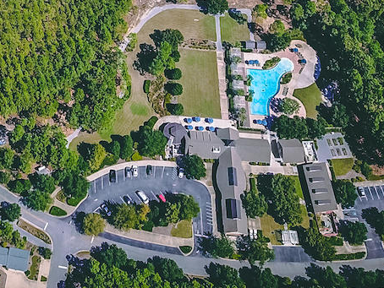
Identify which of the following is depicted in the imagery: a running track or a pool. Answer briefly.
pool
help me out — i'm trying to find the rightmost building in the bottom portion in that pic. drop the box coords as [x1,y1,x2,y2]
[302,161,338,215]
